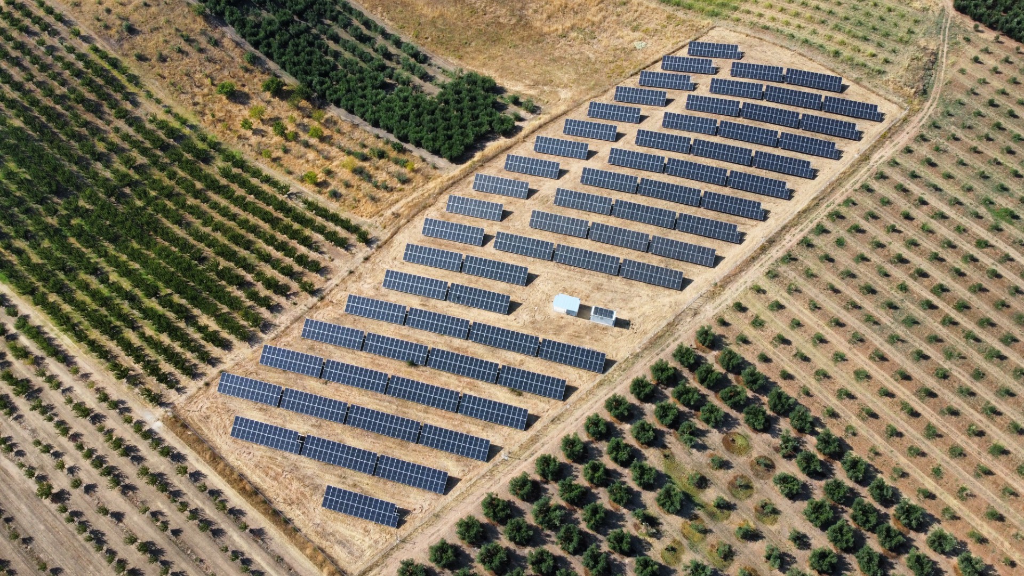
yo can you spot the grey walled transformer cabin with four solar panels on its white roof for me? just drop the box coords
[589,305,619,327]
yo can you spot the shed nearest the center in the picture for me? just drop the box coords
[552,293,581,317]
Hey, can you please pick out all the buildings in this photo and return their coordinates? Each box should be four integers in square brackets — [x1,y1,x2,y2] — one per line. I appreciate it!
[589,305,619,327]
[552,293,581,317]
